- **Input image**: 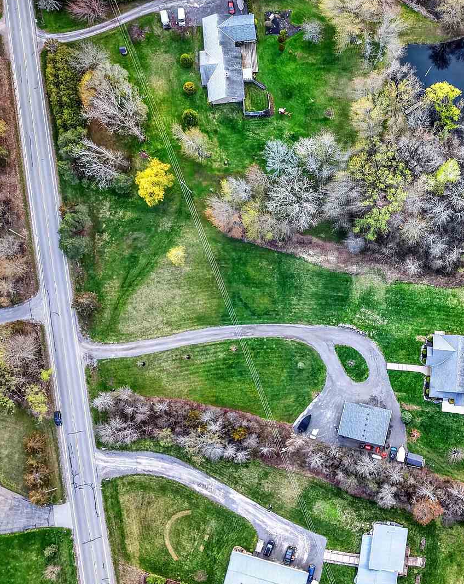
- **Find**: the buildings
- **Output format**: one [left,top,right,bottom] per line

[426,336,464,406]
[338,402,392,445]
[199,13,257,105]
[224,551,309,584]
[356,524,408,584]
